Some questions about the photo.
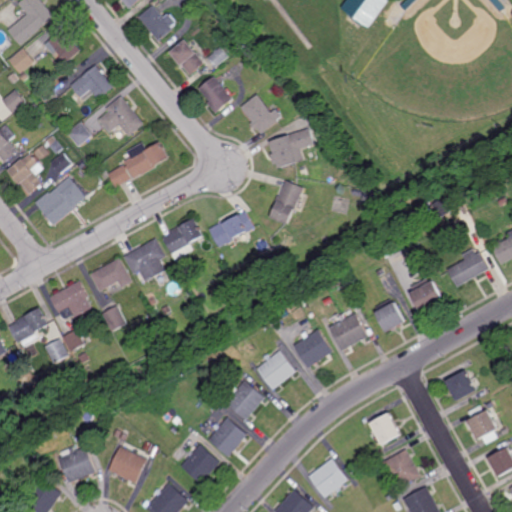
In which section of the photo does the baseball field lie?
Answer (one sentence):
The baseball field appears toward the top right of the photo.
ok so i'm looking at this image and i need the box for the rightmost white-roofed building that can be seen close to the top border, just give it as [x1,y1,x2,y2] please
[340,0,390,29]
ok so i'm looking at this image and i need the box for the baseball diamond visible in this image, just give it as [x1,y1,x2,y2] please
[358,0,512,121]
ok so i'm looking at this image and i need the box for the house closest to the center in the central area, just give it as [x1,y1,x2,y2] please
[210,211,256,245]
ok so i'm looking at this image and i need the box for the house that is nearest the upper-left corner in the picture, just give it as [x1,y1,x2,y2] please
[6,0,52,46]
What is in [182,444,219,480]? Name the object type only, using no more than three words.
house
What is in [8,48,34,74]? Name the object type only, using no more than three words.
building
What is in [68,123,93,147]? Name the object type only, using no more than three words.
building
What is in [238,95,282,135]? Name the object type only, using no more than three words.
house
